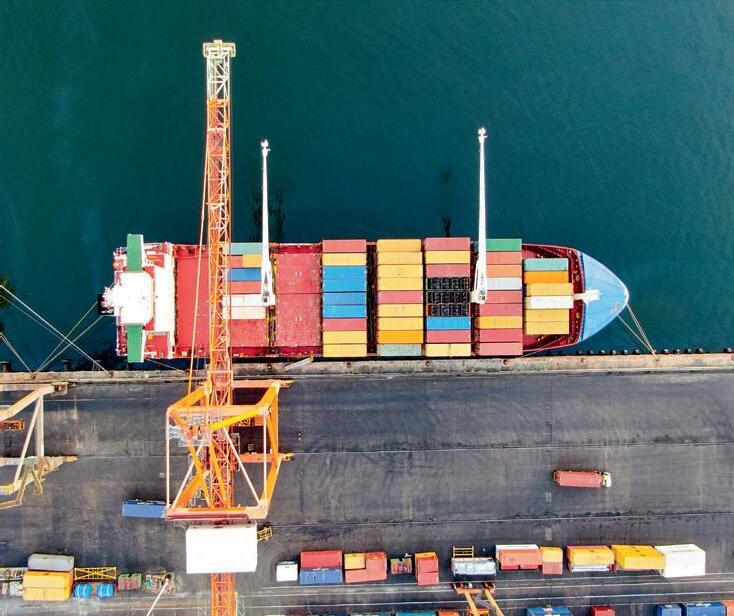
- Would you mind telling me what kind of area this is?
port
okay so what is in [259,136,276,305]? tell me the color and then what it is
white crane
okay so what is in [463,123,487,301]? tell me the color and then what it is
white crane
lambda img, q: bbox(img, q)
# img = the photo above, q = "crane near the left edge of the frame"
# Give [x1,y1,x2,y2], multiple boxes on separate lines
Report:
[0,382,80,508]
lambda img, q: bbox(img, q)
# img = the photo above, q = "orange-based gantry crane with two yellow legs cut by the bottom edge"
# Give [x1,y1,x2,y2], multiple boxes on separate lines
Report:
[454,580,510,616]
